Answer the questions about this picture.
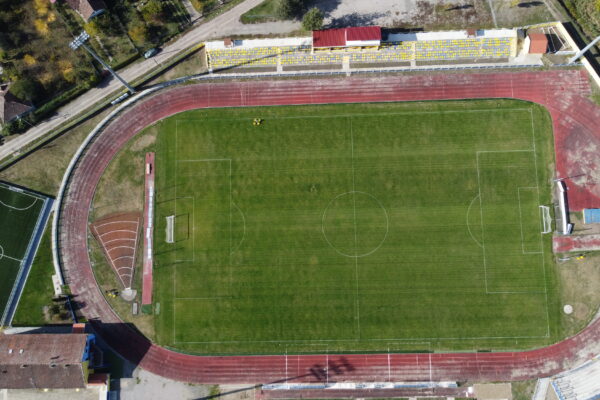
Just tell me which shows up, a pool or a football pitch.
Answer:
football pitch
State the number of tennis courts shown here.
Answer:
0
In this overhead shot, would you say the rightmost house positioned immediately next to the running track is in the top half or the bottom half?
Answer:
top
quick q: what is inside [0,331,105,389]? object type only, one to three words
building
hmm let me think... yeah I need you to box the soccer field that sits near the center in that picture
[156,103,561,355]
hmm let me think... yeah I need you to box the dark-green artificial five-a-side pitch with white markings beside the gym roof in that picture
[0,184,46,327]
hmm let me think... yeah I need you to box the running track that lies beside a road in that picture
[63,68,600,386]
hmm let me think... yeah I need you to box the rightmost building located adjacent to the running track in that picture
[524,34,547,57]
